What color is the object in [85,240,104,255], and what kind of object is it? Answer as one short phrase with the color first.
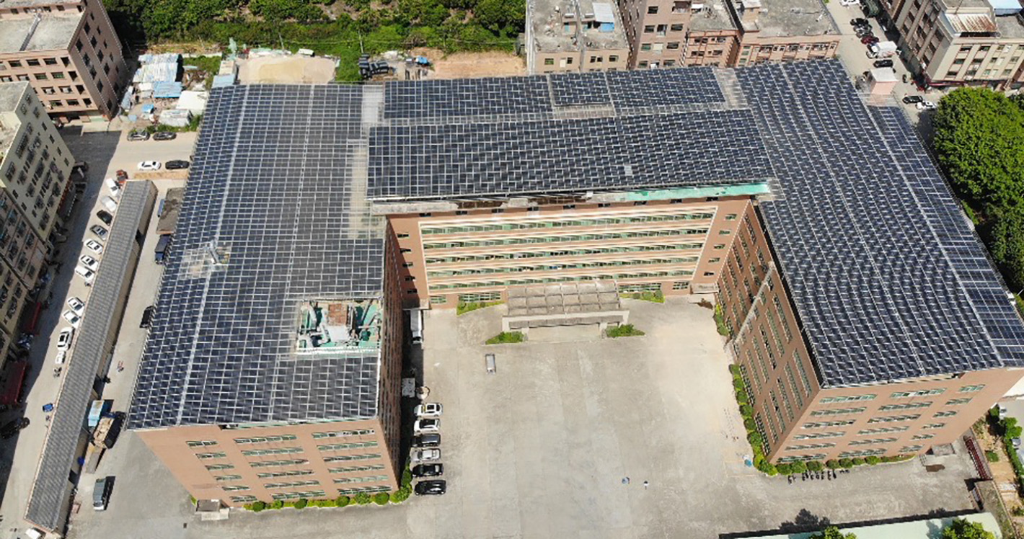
white car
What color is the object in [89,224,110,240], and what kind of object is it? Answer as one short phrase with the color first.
gray car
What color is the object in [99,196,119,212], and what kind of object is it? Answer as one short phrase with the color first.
white car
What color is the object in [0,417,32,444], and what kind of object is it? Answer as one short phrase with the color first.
black car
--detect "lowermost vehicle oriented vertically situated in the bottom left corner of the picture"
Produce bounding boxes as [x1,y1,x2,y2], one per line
[92,476,113,511]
